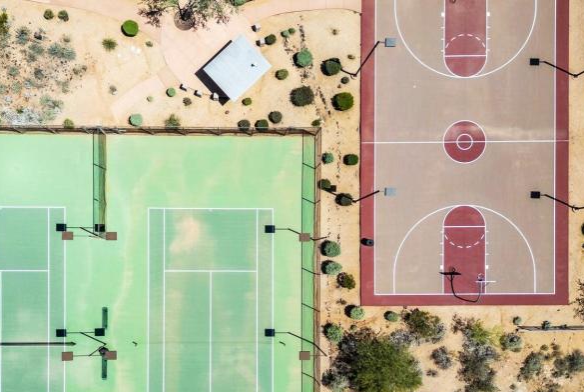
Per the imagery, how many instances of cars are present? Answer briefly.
zero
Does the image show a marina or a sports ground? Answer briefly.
sports ground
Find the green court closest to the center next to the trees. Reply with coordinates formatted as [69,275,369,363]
[105,134,314,392]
